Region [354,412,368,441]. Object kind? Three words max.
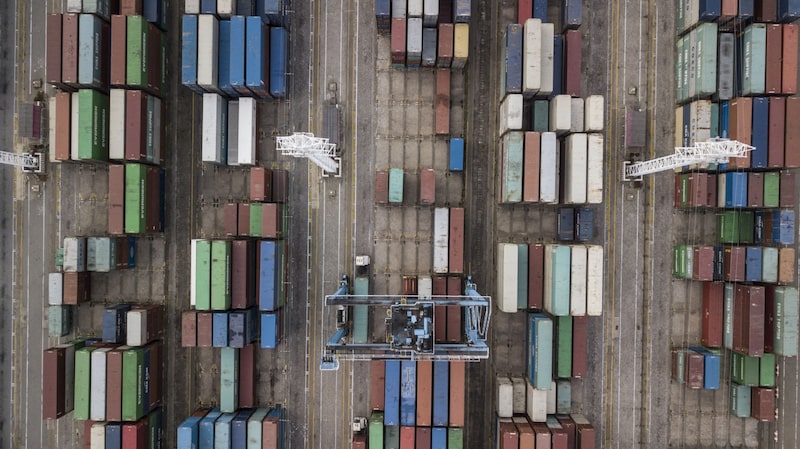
vehicle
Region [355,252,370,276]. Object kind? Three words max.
vehicle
